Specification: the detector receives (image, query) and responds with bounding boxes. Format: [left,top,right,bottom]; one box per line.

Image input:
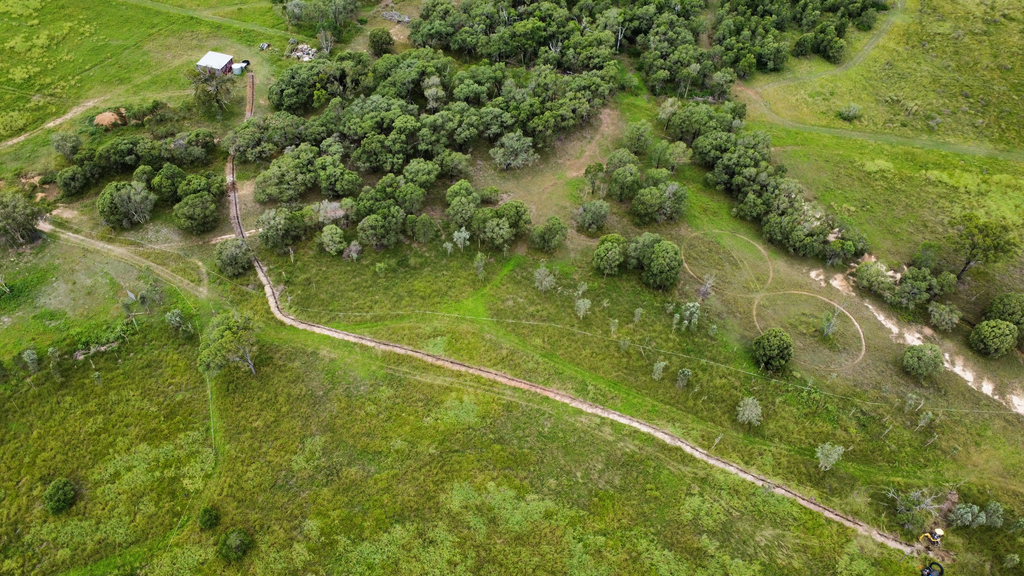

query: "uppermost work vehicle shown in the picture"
[918,528,948,551]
